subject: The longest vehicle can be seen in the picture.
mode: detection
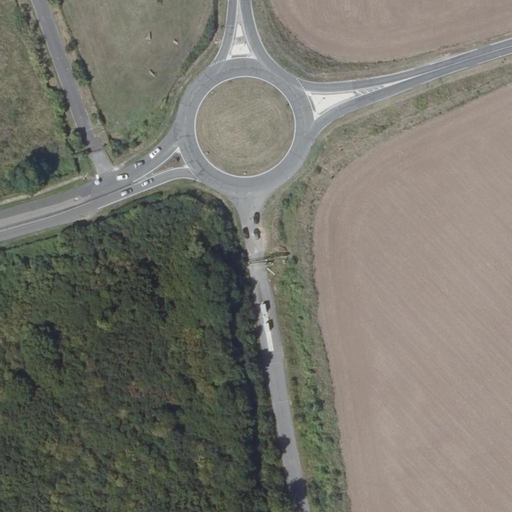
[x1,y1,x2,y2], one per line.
[260,302,274,352]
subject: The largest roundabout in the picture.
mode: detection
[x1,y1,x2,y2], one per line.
[141,19,356,196]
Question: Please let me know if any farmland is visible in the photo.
Yes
